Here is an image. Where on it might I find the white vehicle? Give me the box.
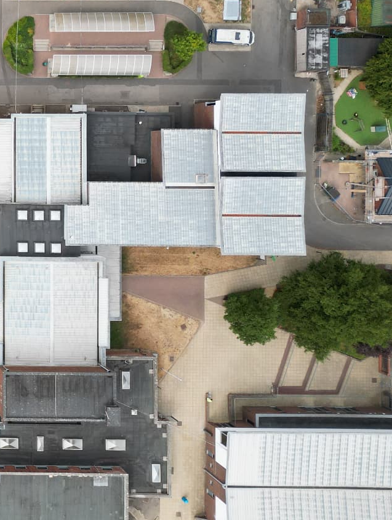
[204,28,249,46]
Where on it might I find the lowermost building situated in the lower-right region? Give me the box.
[204,422,392,520]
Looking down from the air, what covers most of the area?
buildings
